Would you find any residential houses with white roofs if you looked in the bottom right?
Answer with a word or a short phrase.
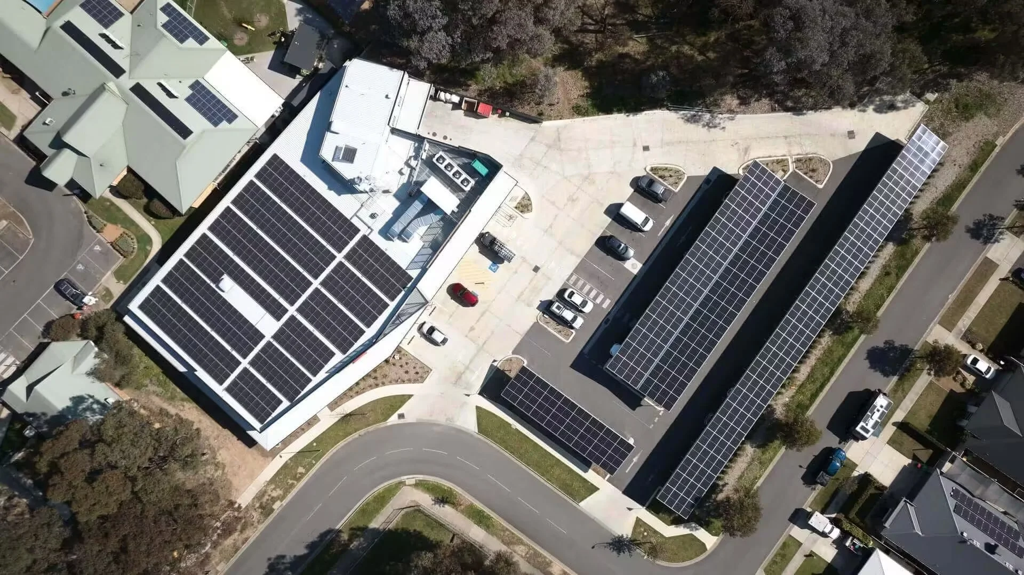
Yes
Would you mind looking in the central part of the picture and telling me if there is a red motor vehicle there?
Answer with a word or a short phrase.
Yes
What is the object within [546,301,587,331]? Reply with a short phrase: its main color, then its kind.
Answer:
white truck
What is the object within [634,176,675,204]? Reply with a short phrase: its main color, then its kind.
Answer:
gray truck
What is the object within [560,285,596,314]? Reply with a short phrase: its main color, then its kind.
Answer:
white car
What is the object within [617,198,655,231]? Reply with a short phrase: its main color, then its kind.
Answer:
white van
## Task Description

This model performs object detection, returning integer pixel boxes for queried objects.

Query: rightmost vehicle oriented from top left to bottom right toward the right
[960,352,997,380]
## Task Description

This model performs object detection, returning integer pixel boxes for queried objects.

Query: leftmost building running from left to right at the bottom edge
[849,546,916,575]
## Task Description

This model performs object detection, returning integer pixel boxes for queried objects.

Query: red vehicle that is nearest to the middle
[448,282,481,309]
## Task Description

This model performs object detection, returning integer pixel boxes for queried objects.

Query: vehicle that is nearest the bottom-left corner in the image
[52,278,92,311]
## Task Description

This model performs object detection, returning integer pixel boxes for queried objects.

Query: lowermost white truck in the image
[802,507,843,539]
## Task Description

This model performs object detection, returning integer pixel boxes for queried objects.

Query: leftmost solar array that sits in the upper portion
[73,0,124,28]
